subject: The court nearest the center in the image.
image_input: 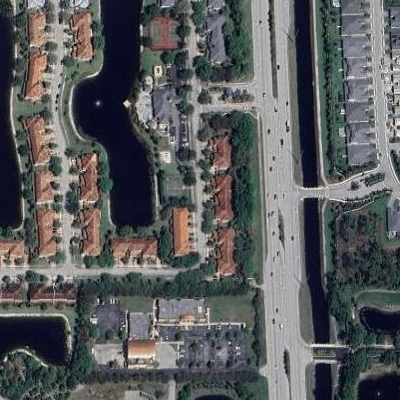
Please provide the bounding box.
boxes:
[160,174,189,204]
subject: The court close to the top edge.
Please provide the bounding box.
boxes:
[150,17,180,49]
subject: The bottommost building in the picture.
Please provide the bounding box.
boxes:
[128,340,155,359]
